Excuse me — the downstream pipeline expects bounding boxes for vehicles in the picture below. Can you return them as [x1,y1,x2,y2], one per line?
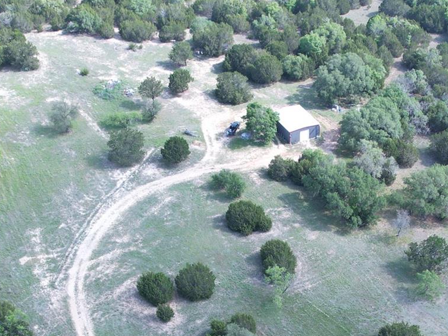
[219,123,241,136]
